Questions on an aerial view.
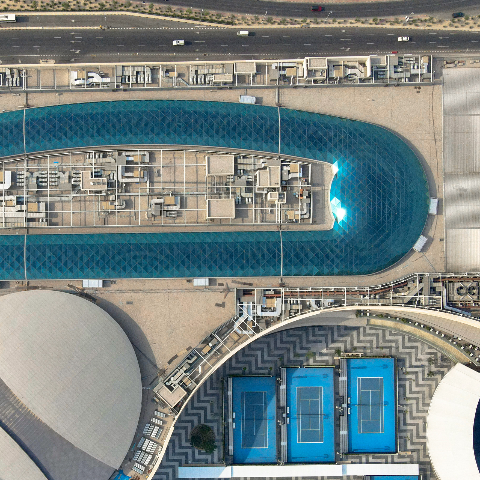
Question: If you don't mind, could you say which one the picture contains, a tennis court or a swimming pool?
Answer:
tennis court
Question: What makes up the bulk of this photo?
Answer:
buildings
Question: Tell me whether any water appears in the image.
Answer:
No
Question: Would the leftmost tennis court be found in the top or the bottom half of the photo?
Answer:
bottom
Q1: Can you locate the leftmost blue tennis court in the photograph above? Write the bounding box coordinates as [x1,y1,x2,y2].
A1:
[232,377,276,464]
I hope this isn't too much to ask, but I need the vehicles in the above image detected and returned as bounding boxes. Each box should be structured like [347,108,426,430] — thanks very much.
[236,31,249,37]
[173,40,184,46]
[452,12,464,17]
[310,6,322,12]
[0,14,16,24]
[397,37,409,42]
